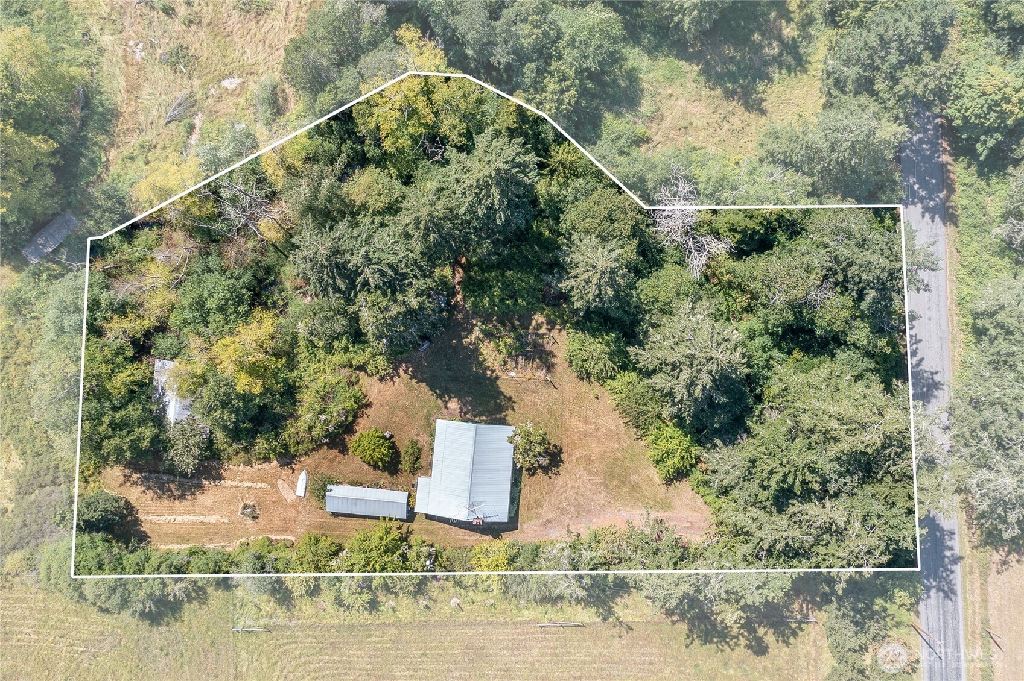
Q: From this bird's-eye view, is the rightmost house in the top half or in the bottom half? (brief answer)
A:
bottom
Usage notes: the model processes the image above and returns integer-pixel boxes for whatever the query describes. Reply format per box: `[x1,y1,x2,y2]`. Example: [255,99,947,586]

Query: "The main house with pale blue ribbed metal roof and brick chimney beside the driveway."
[414,419,516,529]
